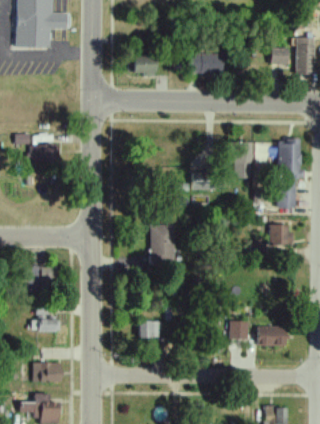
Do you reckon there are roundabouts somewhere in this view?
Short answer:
No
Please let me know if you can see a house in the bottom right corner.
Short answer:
Yes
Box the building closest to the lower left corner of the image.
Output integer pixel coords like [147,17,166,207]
[20,393,62,424]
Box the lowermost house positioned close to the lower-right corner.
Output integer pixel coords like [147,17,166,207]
[264,405,288,424]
